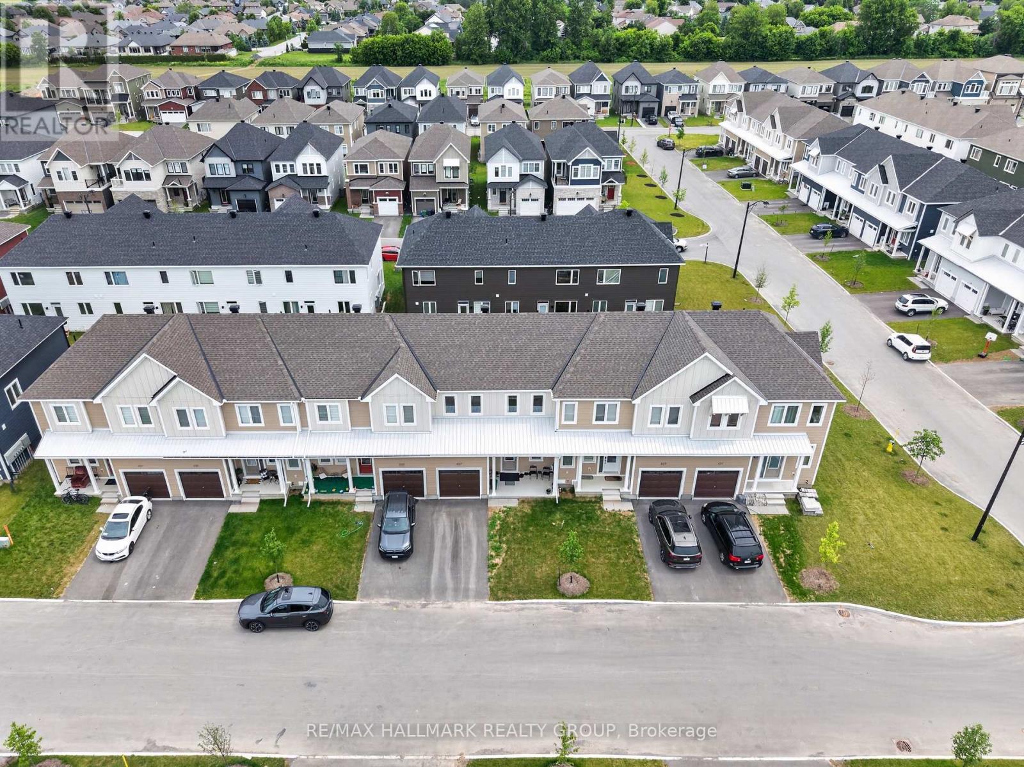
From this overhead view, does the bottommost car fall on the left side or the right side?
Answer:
left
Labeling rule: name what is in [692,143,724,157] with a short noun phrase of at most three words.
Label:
car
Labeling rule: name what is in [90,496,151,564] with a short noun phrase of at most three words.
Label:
car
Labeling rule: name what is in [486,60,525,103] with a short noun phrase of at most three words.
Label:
house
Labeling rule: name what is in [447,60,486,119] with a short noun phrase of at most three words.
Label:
house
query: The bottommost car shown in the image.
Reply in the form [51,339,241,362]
[237,583,338,632]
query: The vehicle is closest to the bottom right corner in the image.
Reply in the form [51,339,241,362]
[701,501,766,571]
